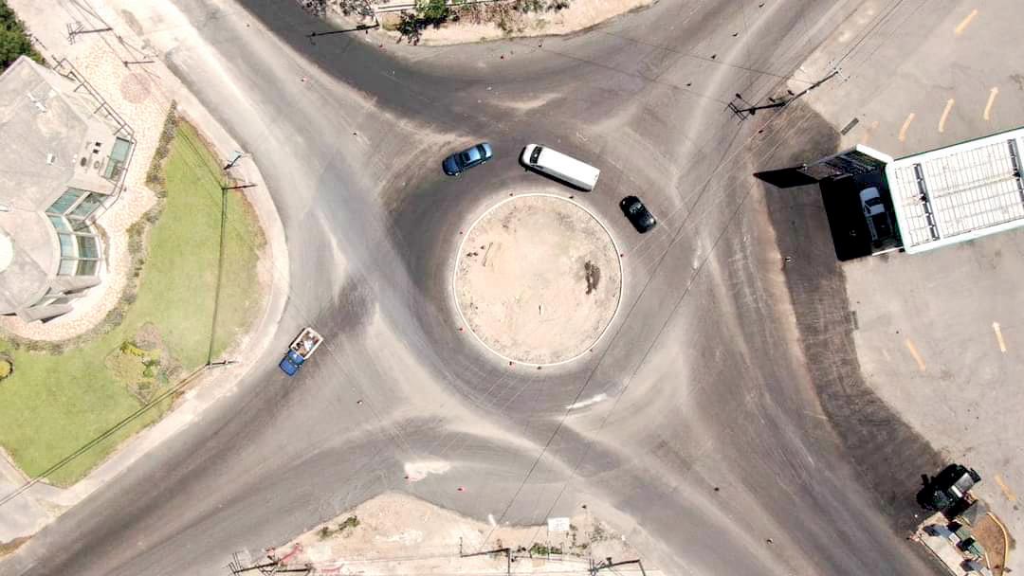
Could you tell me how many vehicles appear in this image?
6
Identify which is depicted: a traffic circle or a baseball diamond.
traffic circle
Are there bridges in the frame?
No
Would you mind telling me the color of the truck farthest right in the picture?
black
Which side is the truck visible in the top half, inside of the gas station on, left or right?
right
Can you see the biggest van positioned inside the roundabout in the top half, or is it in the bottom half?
top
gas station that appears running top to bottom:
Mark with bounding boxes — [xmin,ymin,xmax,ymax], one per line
[790,0,1024,576]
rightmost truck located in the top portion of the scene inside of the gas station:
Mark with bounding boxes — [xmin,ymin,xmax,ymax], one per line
[854,184,888,242]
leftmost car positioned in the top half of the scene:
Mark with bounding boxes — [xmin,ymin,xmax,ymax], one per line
[441,140,494,175]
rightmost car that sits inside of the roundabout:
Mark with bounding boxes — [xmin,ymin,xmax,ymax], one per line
[620,193,661,236]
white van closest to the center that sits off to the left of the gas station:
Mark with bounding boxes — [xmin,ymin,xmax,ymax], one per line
[522,142,599,193]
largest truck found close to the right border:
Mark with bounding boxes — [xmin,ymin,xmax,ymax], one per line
[914,463,979,520]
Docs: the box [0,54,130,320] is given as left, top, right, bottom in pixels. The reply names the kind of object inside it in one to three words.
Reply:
building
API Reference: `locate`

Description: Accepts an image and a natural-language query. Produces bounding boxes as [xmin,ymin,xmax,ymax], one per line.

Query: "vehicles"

[522,142,599,193]
[275,324,327,377]
[620,193,661,236]
[854,184,888,242]
[441,140,494,175]
[914,463,979,520]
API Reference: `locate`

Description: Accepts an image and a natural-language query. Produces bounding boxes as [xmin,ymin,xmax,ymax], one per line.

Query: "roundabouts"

[394,136,682,424]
